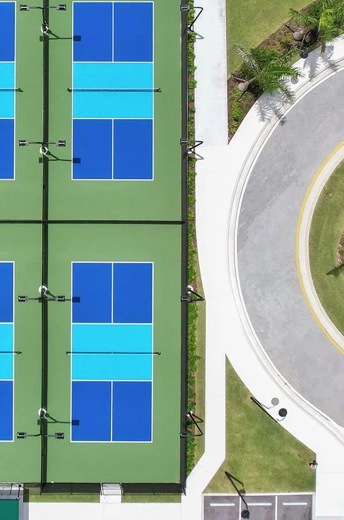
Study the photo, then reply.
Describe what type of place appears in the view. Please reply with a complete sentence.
The picture captures a sports ground.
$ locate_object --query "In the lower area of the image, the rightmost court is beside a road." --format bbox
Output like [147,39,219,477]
[42,222,181,482]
